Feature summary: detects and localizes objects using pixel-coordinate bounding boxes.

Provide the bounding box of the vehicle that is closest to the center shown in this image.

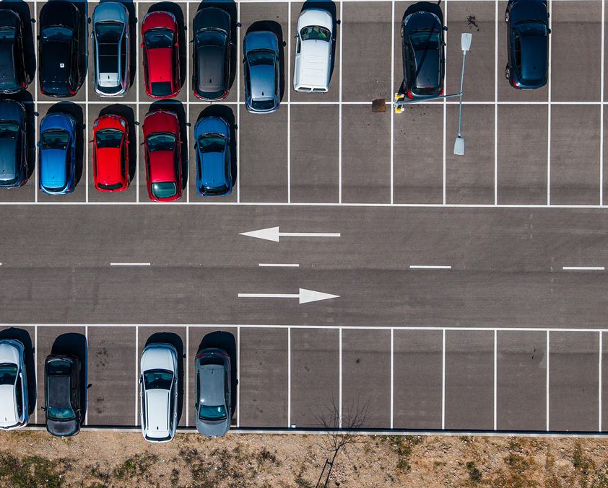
[191,116,238,196]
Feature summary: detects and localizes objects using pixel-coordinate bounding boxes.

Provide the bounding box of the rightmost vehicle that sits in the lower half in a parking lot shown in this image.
[188,347,236,436]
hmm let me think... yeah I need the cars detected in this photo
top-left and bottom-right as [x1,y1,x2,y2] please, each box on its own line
[400,12,449,98]
[88,115,133,192]
[135,341,182,443]
[238,32,284,114]
[0,99,30,188]
[0,10,29,94]
[140,110,186,201]
[191,116,238,196]
[33,113,79,195]
[138,12,184,98]
[86,3,134,98]
[37,355,83,436]
[504,0,556,90]
[188,8,235,100]
[34,2,82,98]
[188,347,236,436]
[0,338,30,431]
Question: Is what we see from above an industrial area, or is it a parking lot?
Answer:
parking lot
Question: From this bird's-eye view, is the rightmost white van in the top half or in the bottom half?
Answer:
top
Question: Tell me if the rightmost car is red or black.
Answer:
black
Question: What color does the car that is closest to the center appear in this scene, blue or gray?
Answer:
blue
